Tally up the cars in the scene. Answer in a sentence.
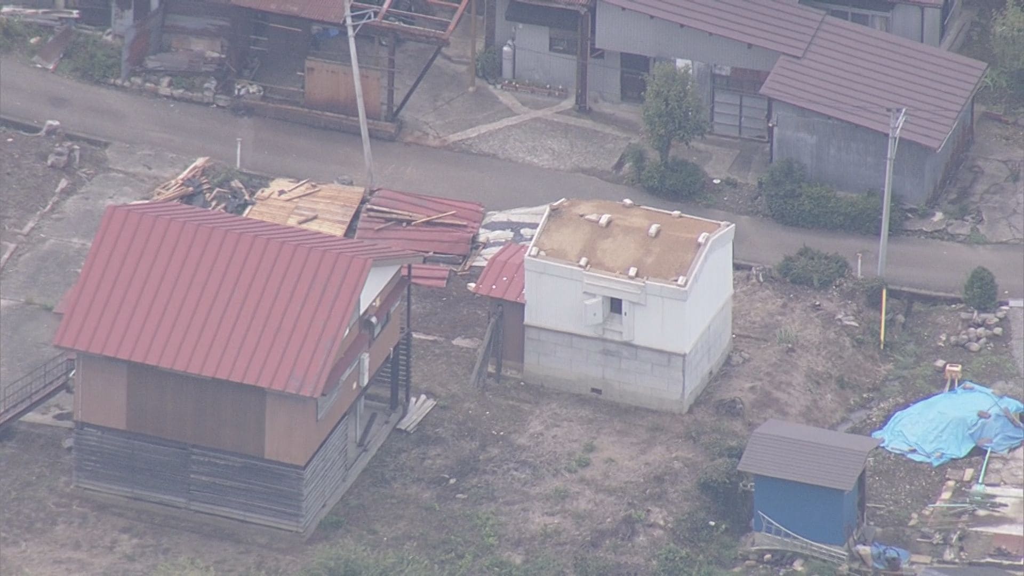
There are no cars in the image.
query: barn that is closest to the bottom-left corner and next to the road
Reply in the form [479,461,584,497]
[53,200,424,538]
